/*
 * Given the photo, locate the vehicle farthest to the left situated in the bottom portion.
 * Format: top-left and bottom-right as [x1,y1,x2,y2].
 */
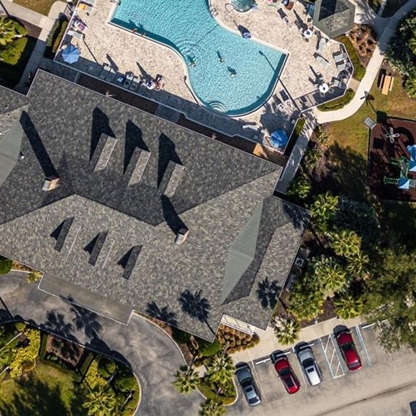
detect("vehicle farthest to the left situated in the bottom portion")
[237,362,261,405]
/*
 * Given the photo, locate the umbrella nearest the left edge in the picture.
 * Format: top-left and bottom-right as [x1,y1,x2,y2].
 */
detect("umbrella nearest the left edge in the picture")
[62,43,82,64]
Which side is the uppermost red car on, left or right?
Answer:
right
